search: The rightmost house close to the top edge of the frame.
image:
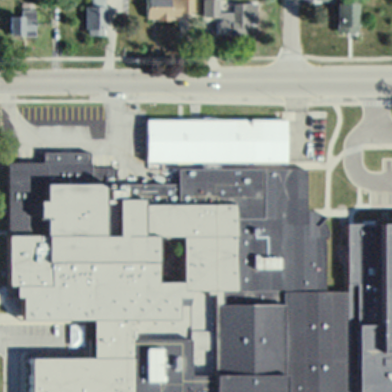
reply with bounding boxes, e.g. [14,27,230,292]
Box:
[337,2,362,34]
